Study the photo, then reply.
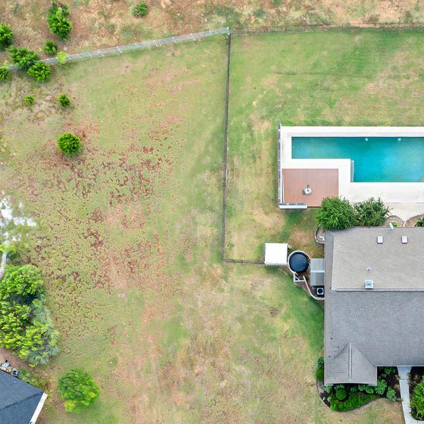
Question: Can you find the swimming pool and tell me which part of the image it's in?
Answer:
right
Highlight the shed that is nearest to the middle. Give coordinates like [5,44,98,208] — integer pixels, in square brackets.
[265,243,289,267]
